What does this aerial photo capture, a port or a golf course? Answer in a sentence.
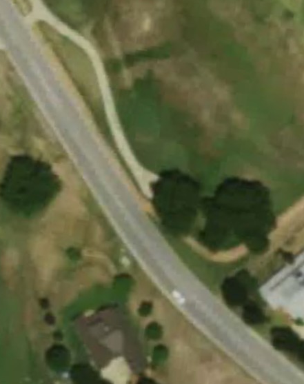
This looks like a golf course.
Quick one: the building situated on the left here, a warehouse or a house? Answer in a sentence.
What you see as the building situated on the left is a house.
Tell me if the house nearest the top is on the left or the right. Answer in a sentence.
The house nearest the top appears in the right half of the scene.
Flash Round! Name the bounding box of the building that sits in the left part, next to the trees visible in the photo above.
[77,297,151,374]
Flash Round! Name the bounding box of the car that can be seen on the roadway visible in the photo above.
[171,289,185,304]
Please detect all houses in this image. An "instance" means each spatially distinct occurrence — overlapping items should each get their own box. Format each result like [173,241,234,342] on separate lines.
[258,248,304,319]
[77,297,151,374]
